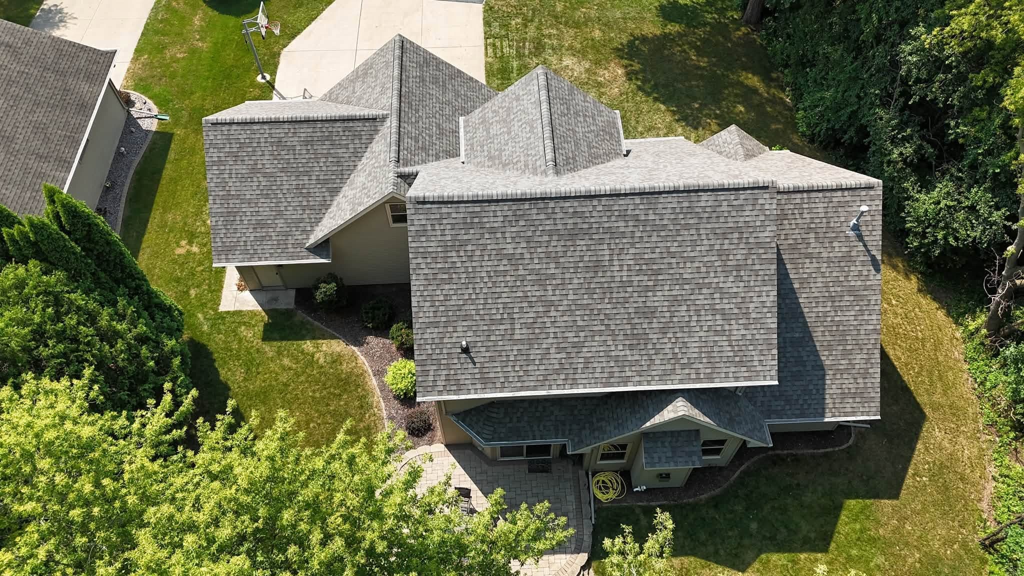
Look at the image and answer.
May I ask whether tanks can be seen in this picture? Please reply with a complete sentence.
No, no tank is visible in the scene.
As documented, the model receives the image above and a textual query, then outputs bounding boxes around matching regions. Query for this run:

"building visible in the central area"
[204,34,883,519]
